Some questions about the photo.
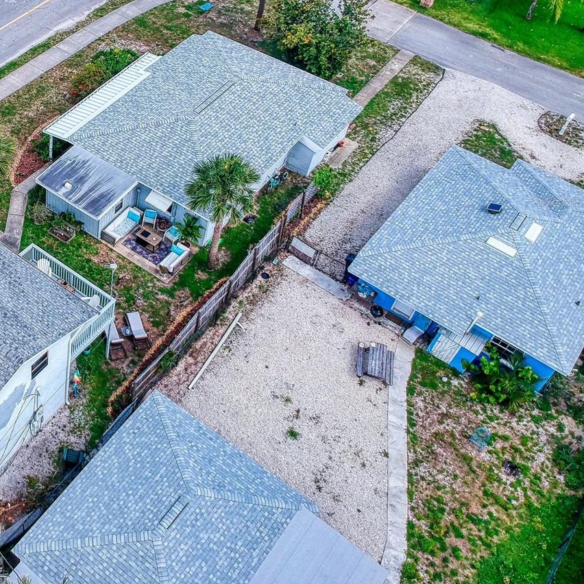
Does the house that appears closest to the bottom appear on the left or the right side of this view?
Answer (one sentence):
The house that appears closest to the bottom appears in the left half of the scene.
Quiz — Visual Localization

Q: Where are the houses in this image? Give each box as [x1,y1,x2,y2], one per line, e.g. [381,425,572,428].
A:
[33,32,368,253]
[347,144,584,393]
[10,391,393,584]
[0,242,117,470]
